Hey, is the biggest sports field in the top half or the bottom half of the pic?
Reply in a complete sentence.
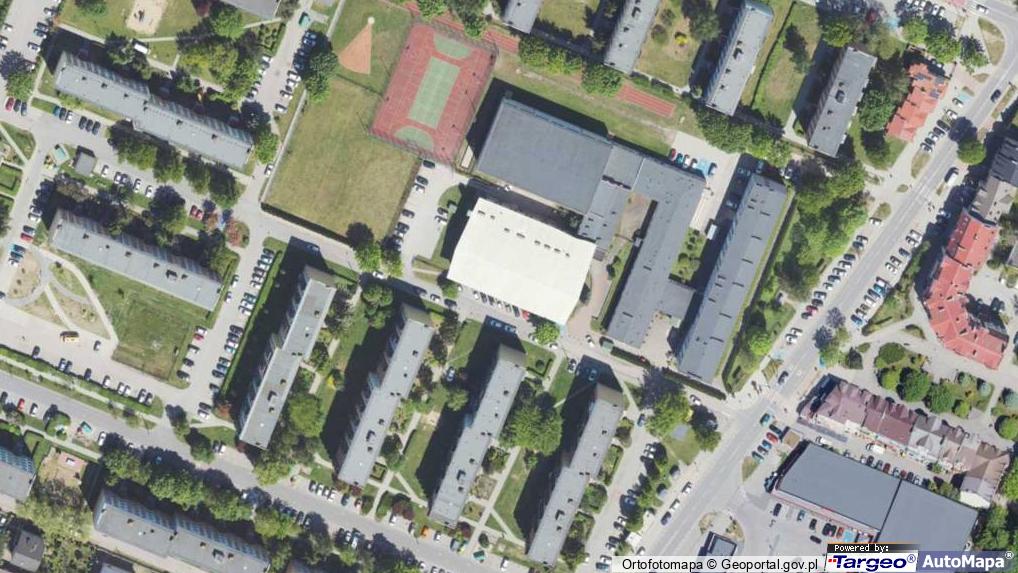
The biggest sports field is in the top half of the image.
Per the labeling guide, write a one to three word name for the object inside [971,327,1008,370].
house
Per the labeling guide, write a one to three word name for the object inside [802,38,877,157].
building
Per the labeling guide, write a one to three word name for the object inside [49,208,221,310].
building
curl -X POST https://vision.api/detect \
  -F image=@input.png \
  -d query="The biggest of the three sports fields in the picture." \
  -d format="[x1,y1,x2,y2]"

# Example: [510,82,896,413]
[263,81,422,252]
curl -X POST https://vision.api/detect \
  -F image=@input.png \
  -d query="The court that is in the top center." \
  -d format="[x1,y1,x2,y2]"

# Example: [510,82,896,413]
[371,24,497,162]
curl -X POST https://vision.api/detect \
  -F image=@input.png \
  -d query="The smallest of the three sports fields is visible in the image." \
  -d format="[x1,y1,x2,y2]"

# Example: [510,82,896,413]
[338,17,375,74]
